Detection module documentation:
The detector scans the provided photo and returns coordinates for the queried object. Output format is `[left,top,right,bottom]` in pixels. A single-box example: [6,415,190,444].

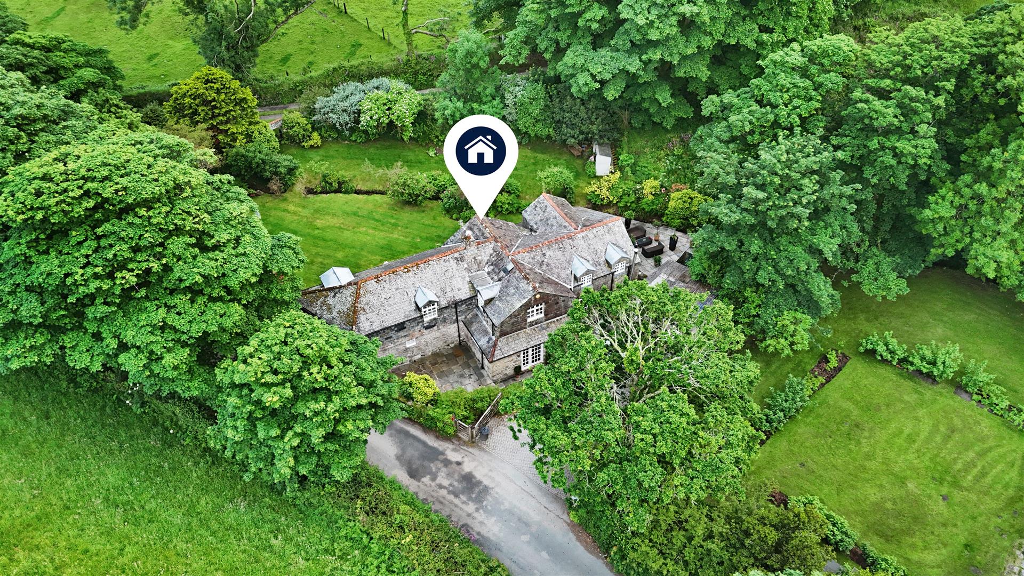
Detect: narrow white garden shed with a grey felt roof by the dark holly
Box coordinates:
[590,139,613,175]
